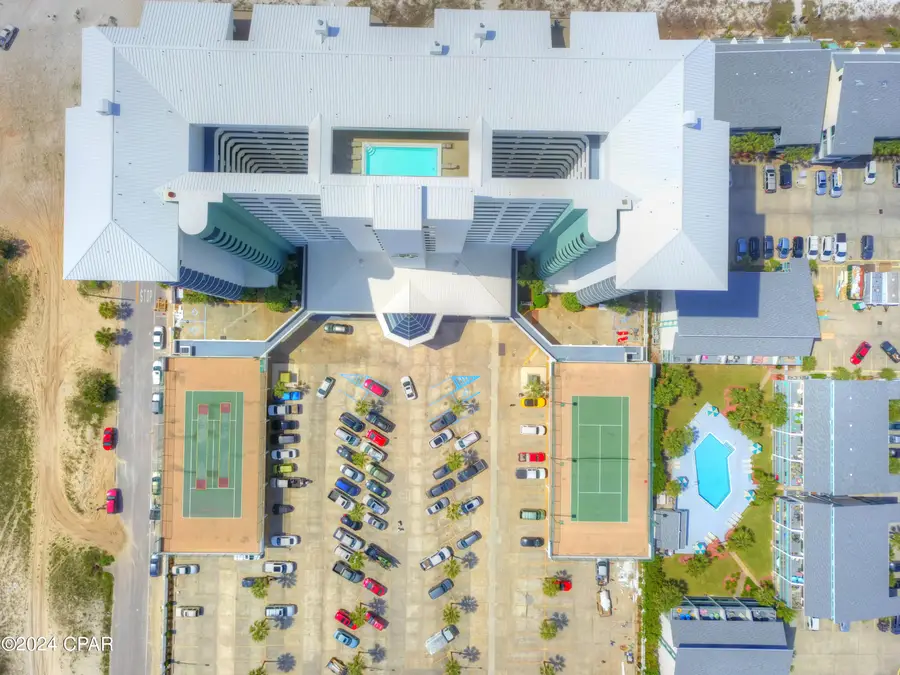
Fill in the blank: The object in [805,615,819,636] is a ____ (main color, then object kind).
white vehicle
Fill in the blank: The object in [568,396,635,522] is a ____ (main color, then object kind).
green tennis court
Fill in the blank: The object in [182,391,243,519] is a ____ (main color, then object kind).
green sports court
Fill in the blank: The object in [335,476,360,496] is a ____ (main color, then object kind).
blue car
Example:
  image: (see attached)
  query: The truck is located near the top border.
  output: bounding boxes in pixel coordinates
[0,23,23,54]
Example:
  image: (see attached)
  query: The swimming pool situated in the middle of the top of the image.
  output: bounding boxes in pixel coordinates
[362,143,440,178]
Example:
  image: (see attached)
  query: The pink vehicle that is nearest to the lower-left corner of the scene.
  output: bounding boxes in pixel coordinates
[105,485,120,517]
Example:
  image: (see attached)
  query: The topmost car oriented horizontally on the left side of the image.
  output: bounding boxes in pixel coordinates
[325,323,351,335]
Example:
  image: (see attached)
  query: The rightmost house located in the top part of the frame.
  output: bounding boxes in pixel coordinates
[815,48,900,163]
